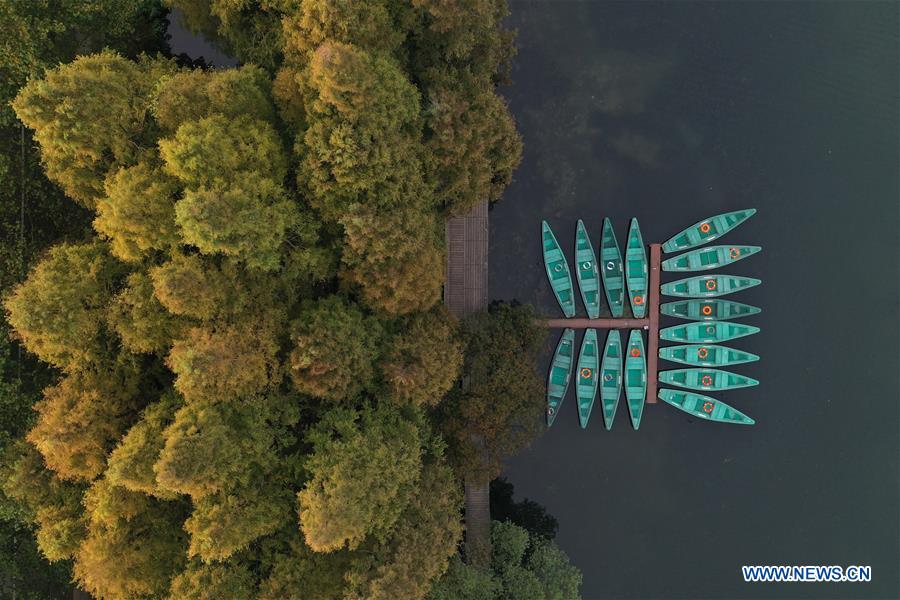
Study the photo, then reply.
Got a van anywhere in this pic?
No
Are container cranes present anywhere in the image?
No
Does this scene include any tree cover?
Yes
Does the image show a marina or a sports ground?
marina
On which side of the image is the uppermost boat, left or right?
right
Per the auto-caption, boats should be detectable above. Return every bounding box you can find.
[657,344,760,366]
[660,275,762,297]
[658,322,761,343]
[657,299,761,321]
[656,369,759,391]
[656,388,756,423]
[658,209,757,254]
[576,220,599,323]
[660,245,762,271]
[626,218,648,320]
[547,328,575,428]
[600,329,622,430]
[542,220,575,322]
[576,329,599,430]
[600,218,624,318]
[625,326,647,430]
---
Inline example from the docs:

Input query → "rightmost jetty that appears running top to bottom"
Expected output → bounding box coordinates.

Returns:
[645,242,662,403]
